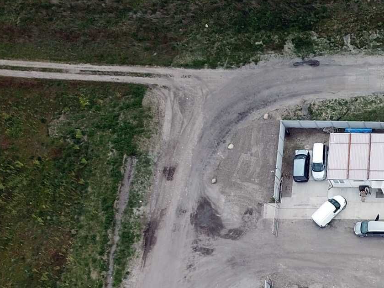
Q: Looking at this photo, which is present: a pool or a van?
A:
van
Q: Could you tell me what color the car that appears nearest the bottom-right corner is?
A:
white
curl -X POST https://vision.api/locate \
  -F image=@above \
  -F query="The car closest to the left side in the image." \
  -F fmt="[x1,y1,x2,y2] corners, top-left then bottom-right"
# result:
[292,148,310,183]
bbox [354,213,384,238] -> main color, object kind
white car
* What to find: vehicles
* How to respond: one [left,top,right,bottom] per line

[313,193,349,230]
[292,148,310,183]
[354,213,384,238]
[309,145,329,180]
